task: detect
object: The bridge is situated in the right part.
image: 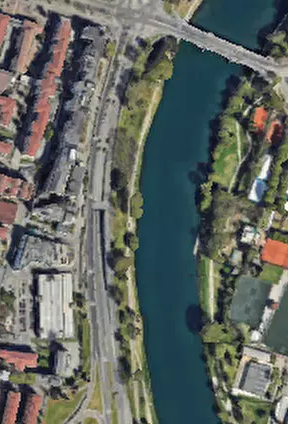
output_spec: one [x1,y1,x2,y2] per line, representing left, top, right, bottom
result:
[179,21,288,86]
